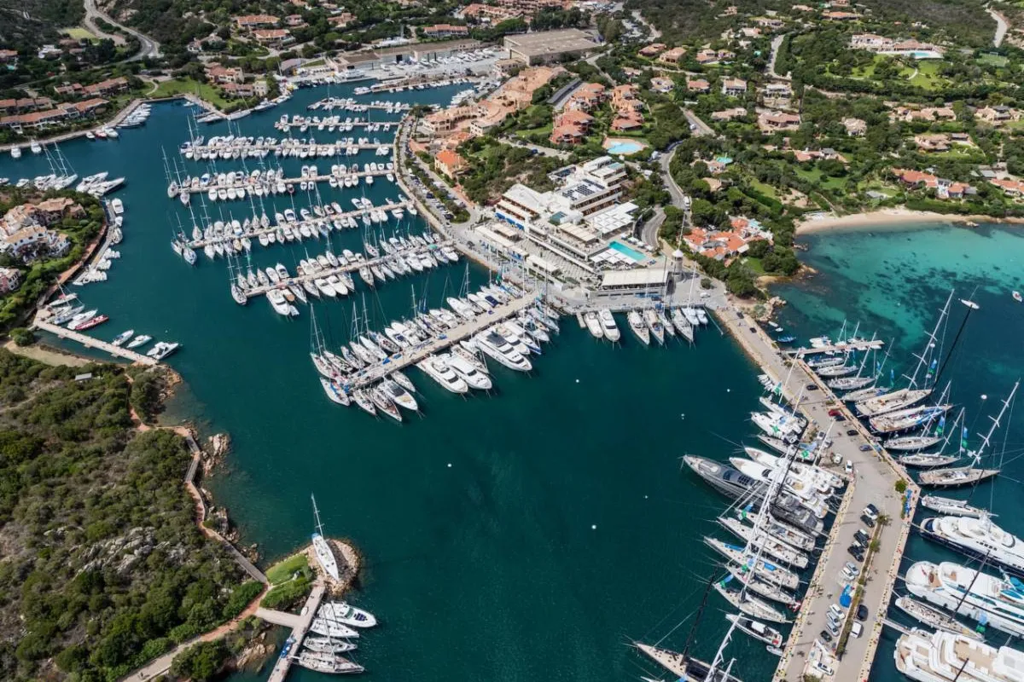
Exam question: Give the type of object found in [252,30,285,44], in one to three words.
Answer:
house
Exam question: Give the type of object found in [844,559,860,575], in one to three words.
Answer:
car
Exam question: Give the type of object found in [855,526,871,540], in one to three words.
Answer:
car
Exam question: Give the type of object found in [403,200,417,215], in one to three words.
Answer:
boat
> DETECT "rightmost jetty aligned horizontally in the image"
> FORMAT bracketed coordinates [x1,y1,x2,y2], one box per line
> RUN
[781,342,884,354]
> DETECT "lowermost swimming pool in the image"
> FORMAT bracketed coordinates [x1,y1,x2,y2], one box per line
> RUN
[607,239,649,263]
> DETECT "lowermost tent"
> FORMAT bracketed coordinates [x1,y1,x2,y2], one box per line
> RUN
[838,574,860,603]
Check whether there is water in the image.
Yes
